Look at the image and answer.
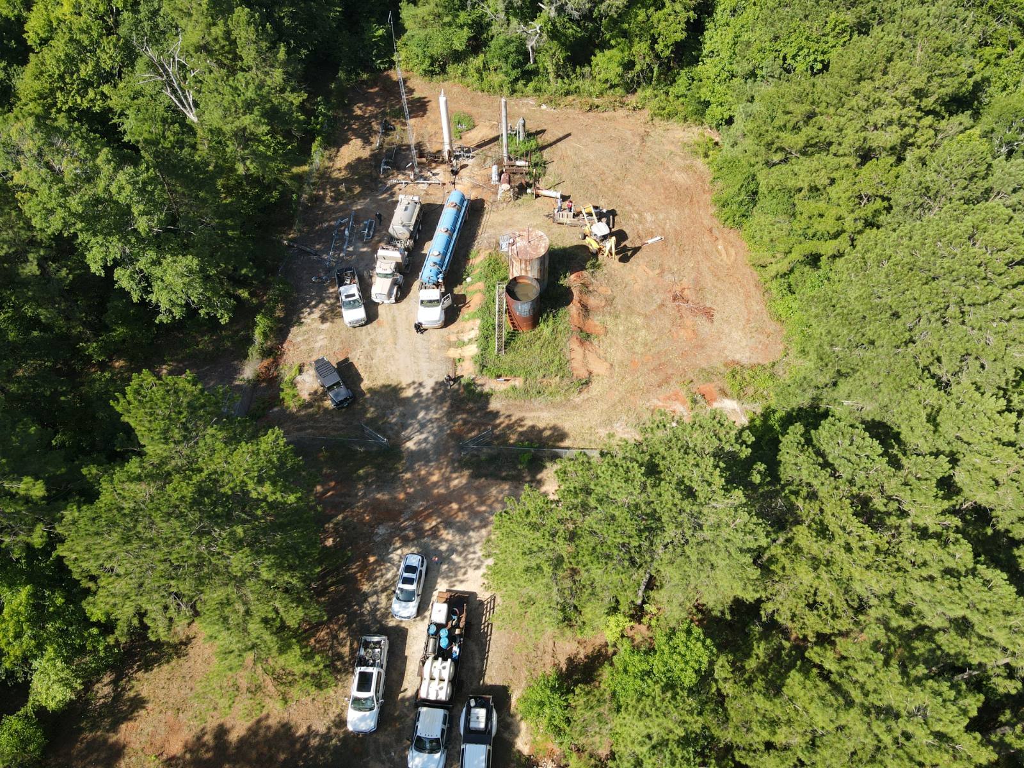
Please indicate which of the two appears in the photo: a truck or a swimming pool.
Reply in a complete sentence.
The image shows a truck.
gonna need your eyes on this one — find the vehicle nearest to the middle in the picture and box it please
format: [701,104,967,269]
[415,276,452,332]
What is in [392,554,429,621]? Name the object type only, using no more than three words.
car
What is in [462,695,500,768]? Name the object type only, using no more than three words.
truck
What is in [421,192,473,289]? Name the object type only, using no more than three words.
trailer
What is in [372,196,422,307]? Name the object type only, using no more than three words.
truck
